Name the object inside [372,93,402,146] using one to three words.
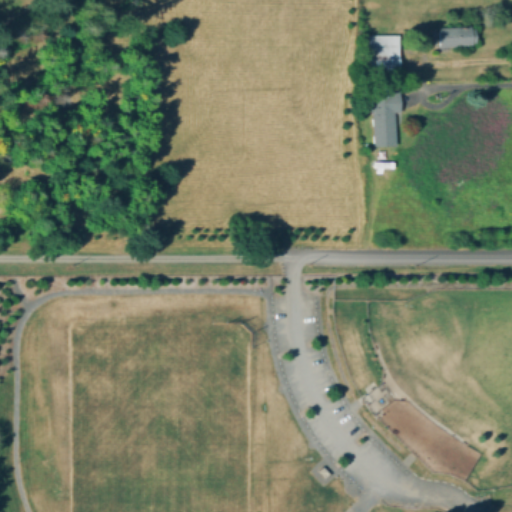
house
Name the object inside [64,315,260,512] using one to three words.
sports field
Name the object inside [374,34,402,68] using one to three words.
barn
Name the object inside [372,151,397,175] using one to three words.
house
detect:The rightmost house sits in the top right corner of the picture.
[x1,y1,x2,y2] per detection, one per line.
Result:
[440,28,478,50]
